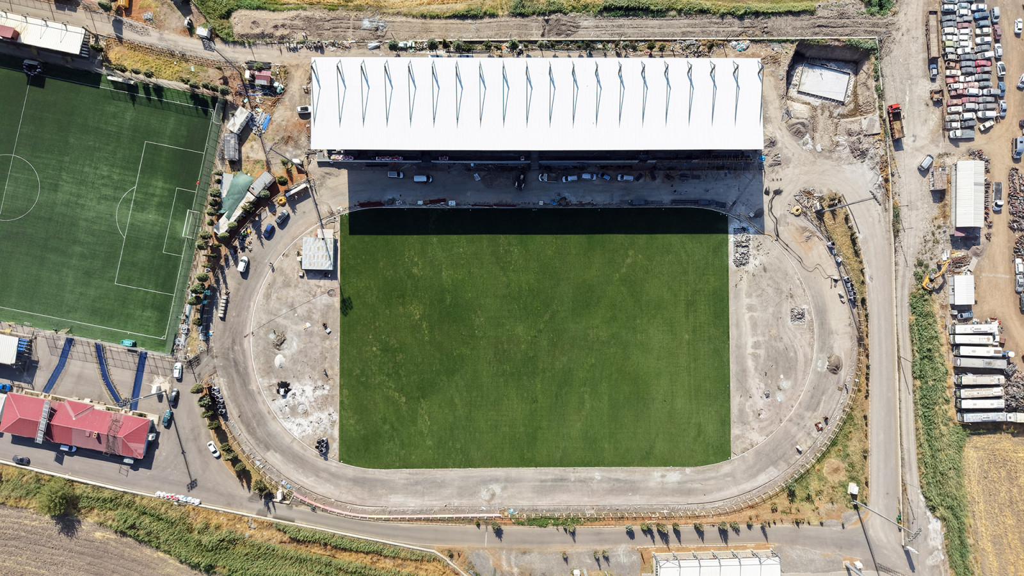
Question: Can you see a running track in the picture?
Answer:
Yes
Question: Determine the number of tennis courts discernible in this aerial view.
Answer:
0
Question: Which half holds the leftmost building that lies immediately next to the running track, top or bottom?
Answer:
bottom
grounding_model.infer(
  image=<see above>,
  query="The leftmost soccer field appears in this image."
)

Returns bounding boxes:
[0,54,222,354]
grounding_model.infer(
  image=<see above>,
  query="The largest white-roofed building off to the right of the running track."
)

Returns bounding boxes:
[946,161,984,237]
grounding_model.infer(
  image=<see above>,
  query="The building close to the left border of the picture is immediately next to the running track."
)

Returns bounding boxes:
[0,391,160,459]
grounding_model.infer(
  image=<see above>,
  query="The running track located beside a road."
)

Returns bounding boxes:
[214,162,858,507]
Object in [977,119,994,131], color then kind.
white vehicle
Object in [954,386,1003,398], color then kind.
white vehicle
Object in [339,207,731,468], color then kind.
green sports field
